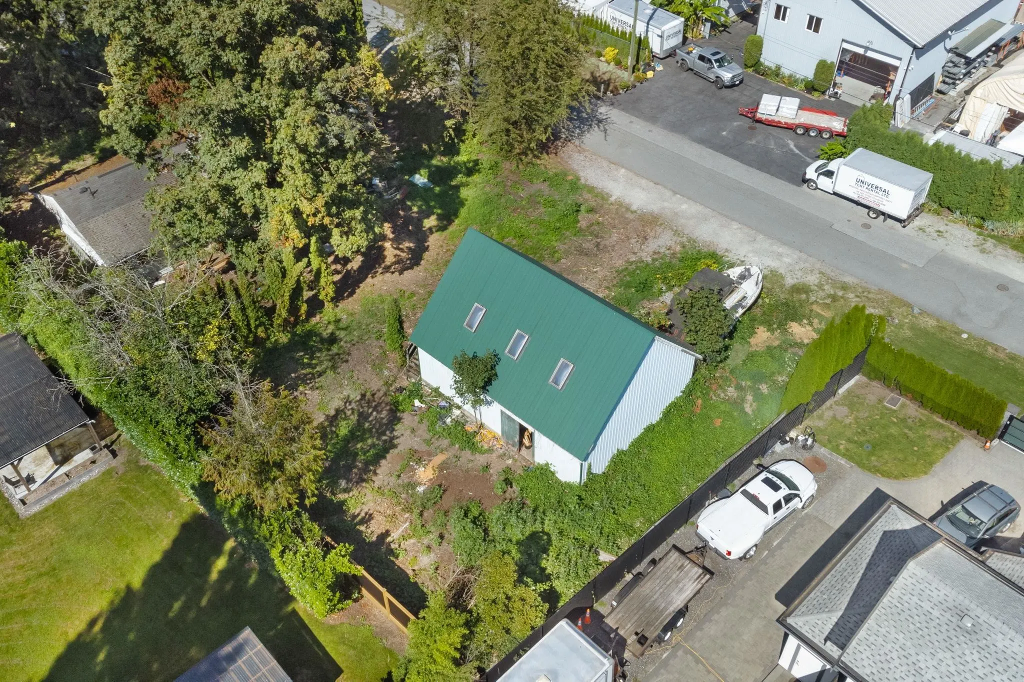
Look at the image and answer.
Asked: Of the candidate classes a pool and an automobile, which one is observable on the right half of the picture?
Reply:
automobile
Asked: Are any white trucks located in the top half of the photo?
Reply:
Yes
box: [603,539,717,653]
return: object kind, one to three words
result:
trailer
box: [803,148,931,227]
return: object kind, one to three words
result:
truck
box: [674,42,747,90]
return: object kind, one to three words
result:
truck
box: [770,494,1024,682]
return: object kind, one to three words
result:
house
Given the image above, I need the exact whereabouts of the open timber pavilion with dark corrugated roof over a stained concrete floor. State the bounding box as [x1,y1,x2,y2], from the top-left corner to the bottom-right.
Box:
[0,326,105,520]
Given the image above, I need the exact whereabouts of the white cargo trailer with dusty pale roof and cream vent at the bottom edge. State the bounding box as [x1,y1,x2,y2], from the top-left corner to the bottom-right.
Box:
[499,622,612,682]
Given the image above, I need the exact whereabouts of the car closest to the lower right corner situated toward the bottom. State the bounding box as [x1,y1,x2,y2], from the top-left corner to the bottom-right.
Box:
[934,482,1023,550]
